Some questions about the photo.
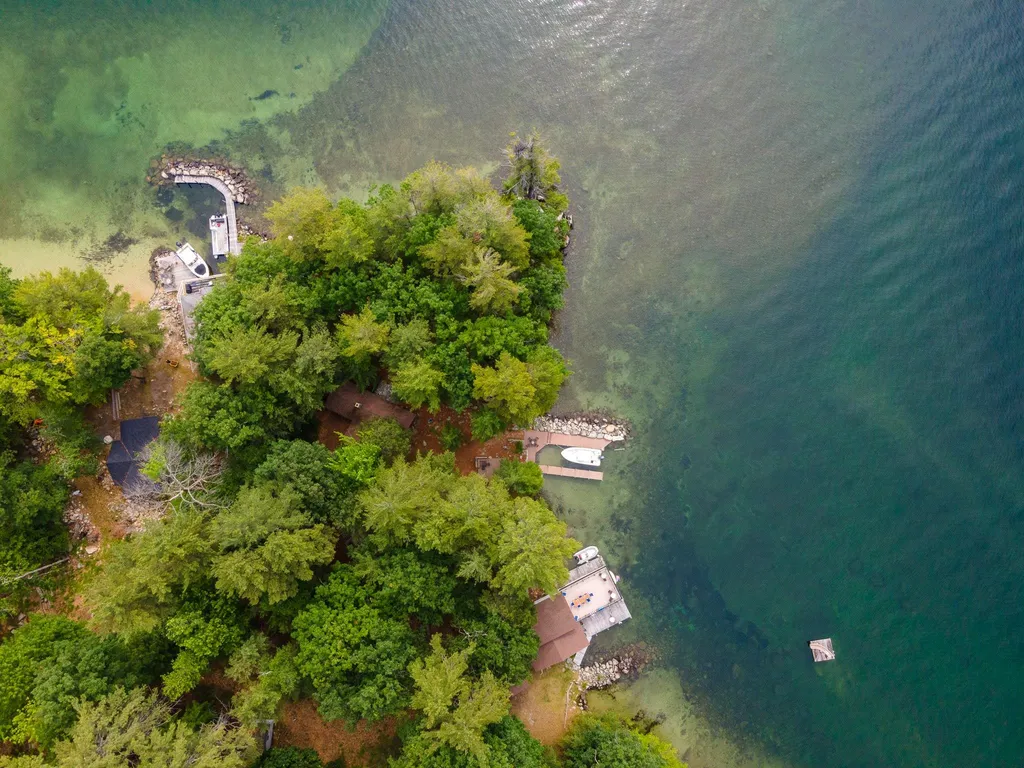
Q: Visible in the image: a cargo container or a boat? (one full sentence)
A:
There is a boat in the scene.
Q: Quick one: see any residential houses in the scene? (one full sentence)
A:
Yes, you can see a residential house in this photo.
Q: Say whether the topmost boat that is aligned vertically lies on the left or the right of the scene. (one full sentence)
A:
It is on the left.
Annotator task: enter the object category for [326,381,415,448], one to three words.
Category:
house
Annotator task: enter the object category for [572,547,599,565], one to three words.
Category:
boat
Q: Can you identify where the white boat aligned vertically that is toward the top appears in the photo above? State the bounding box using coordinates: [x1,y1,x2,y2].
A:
[206,211,228,256]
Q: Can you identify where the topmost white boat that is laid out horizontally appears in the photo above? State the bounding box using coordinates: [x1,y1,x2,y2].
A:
[561,447,607,467]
